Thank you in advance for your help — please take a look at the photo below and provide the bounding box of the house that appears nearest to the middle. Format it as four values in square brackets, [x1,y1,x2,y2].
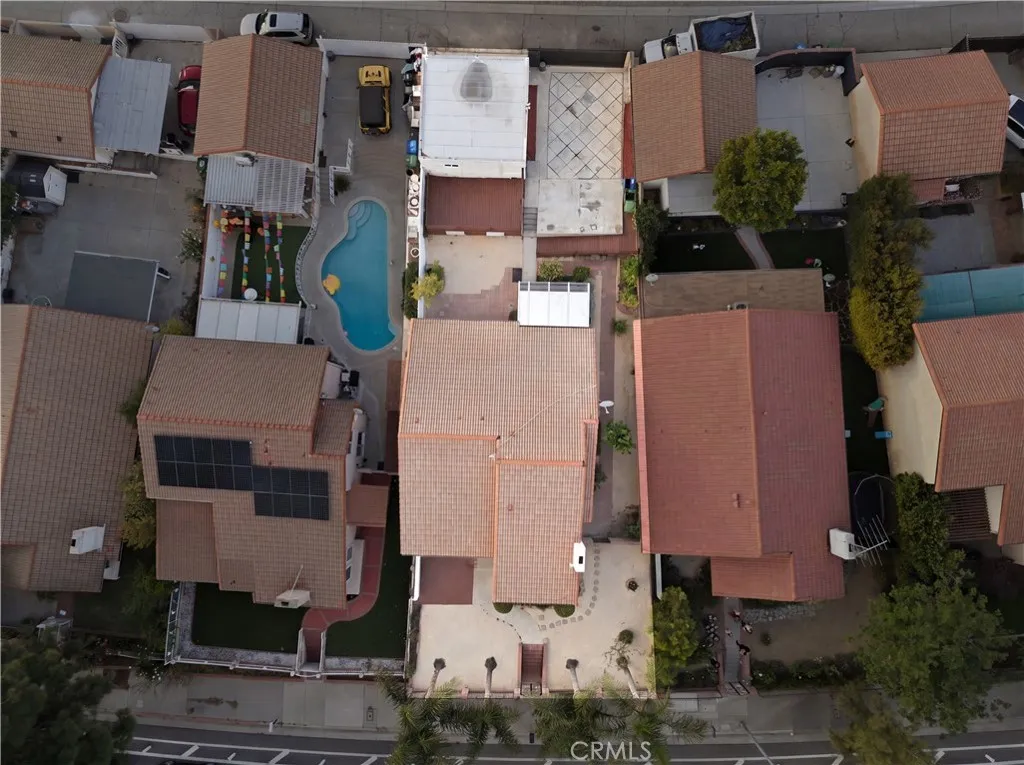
[398,318,599,606]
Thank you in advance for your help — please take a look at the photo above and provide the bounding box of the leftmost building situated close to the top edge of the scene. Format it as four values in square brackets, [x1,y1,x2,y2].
[0,32,115,164]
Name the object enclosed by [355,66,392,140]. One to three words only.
car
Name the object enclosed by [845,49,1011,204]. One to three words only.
building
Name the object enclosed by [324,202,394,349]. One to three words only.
swimming pool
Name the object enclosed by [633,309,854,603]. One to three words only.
house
